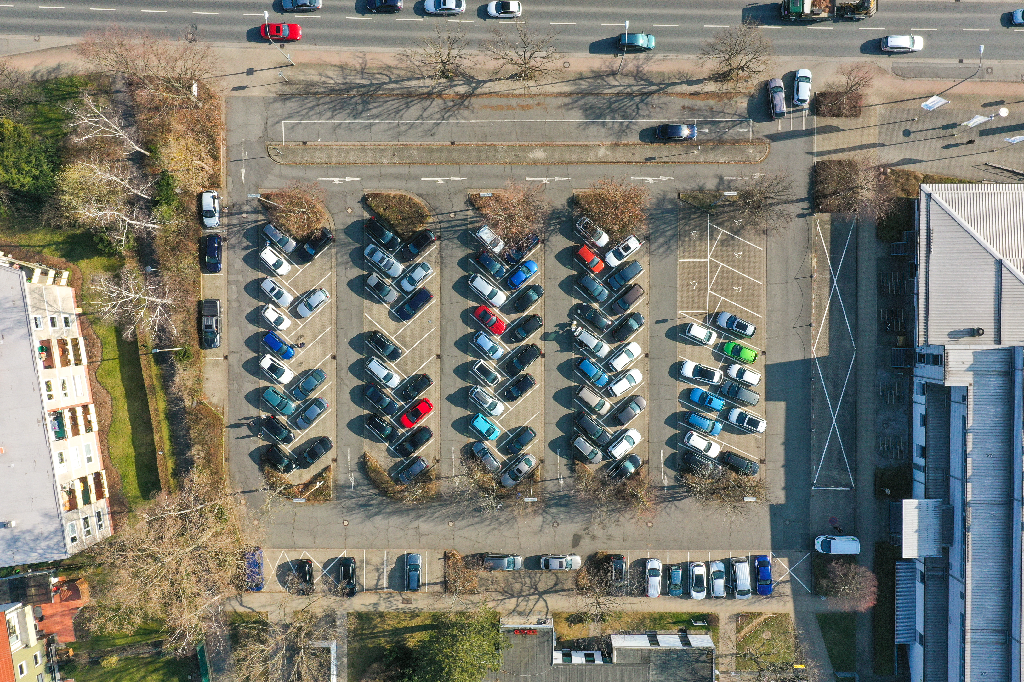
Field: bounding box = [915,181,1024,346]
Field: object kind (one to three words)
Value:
building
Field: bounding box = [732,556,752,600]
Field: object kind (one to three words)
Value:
vehicle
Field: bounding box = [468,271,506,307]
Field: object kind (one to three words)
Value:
car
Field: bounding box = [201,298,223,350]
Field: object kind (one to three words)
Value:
truck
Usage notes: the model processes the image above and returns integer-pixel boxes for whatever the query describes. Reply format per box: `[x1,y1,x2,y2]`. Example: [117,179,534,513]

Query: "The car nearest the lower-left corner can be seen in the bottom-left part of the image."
[246,546,266,592]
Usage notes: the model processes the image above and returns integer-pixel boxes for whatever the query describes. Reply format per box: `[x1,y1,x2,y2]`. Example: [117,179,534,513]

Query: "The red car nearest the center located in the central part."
[473,304,506,335]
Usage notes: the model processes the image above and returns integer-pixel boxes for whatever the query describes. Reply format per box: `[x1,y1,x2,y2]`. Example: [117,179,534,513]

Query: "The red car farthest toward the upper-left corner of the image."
[260,21,303,41]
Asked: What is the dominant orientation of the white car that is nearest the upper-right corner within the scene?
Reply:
from left to right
